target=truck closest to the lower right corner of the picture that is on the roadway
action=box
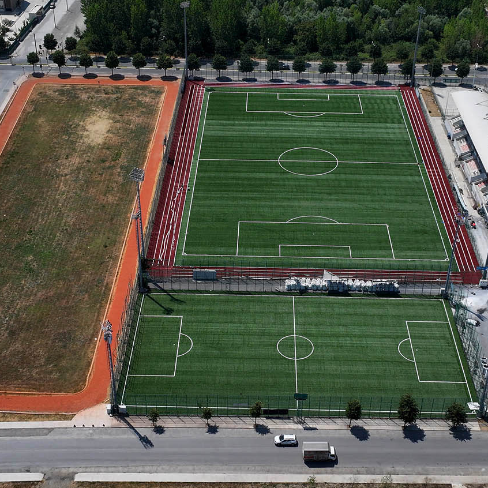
[304,438,338,461]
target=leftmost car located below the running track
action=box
[274,434,298,446]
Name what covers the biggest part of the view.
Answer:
grass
